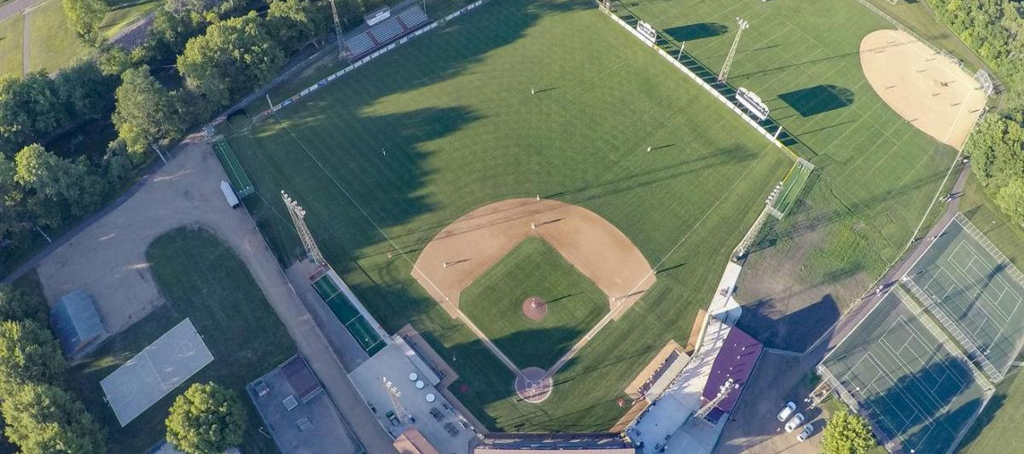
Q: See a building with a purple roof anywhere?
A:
Yes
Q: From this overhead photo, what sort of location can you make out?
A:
sports ground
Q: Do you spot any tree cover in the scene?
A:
Yes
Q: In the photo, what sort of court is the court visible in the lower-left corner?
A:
basketball court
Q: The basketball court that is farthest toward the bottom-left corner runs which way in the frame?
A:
on a diagonal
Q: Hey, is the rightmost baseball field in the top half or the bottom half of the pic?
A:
top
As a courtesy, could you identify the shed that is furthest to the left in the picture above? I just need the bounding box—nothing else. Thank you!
[53,290,114,360]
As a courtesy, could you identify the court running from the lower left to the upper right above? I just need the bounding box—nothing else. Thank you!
[101,318,214,427]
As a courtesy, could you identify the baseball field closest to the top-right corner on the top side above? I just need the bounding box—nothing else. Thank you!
[860,29,985,150]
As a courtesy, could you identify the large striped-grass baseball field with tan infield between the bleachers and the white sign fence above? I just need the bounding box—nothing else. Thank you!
[226,0,798,434]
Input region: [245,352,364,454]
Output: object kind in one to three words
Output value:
building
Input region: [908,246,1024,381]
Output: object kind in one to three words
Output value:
tennis court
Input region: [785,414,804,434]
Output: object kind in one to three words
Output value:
car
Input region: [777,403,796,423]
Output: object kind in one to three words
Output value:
car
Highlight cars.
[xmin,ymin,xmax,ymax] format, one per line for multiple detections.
[777,403,796,423]
[797,425,814,444]
[785,414,804,434]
